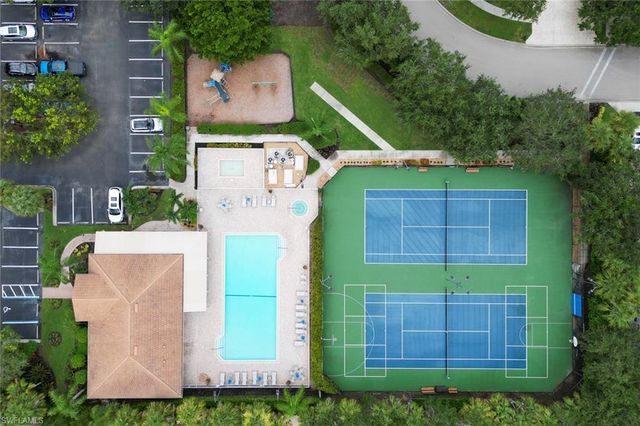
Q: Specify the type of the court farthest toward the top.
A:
tennis court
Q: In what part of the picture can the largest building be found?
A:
bottom left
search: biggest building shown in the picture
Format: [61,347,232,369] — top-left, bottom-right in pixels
[71,254,186,399]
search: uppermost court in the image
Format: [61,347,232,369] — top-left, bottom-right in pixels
[364,189,528,265]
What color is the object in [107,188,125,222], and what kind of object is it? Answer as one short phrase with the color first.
white car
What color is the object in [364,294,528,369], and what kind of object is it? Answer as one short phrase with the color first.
blue tennis court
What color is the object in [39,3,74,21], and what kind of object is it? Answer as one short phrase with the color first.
blue car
